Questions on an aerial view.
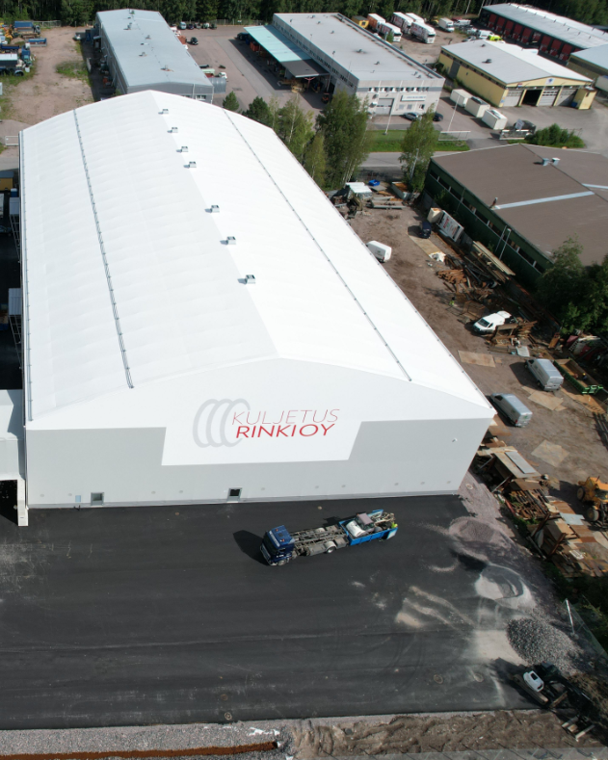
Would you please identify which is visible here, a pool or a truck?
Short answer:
truck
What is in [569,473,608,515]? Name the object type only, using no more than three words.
work vehicle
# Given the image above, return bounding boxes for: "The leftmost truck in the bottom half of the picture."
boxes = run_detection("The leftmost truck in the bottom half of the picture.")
[259,521,351,564]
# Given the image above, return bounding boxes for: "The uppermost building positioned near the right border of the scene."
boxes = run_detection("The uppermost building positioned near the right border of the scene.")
[485,0,608,68]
